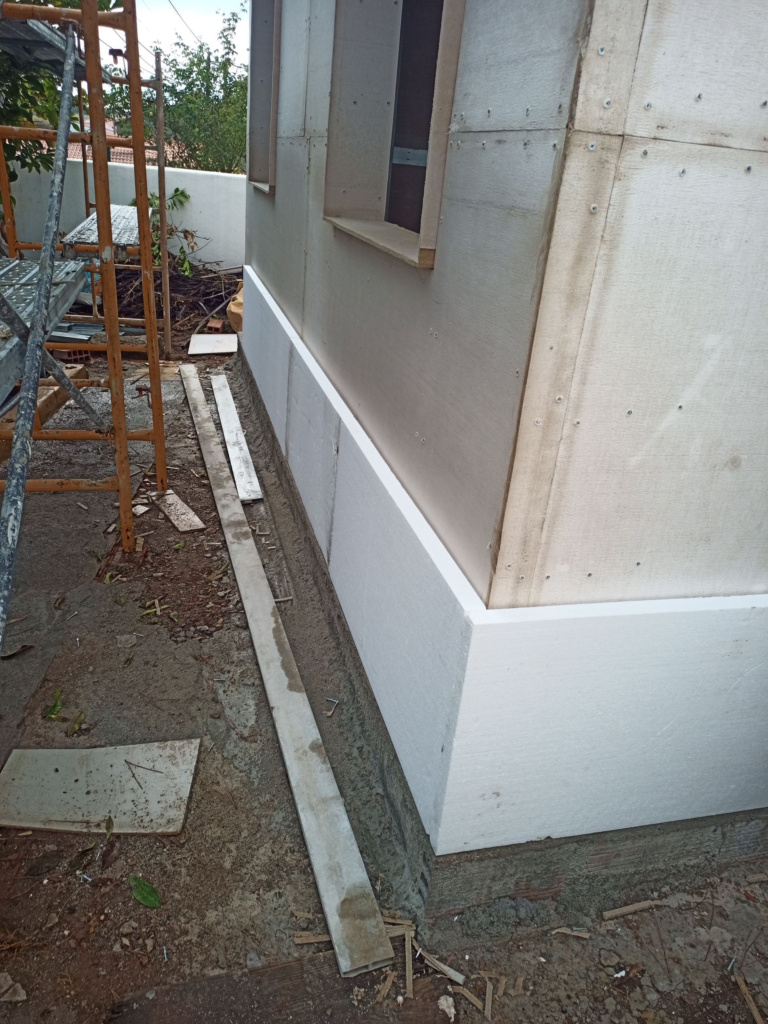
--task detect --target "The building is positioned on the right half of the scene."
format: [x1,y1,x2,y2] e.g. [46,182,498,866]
[220,0,768,938]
